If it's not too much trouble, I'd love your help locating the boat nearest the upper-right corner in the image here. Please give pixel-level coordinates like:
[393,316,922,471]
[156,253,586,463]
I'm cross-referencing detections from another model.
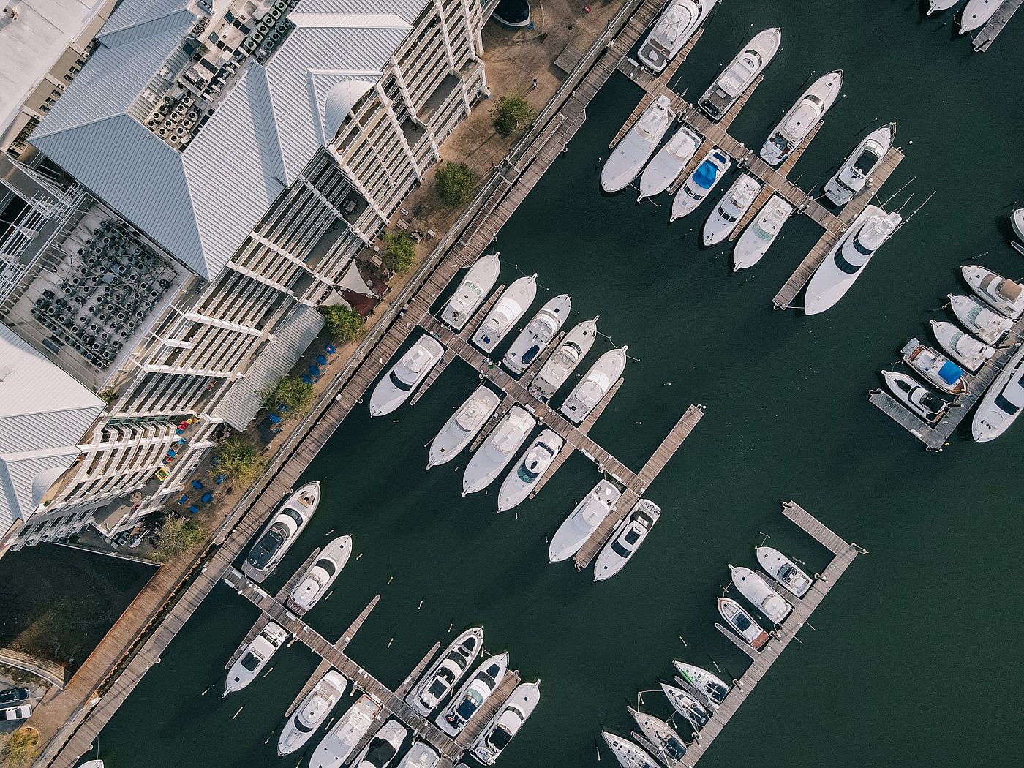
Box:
[958,0,1005,32]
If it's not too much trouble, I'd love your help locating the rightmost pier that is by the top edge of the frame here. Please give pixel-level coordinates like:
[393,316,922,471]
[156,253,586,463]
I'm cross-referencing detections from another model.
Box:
[971,0,1022,53]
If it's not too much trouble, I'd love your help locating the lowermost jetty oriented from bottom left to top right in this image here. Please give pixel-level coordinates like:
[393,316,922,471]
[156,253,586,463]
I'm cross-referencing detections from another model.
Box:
[630,500,855,768]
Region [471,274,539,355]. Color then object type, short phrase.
white boat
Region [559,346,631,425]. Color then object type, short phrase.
white boat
